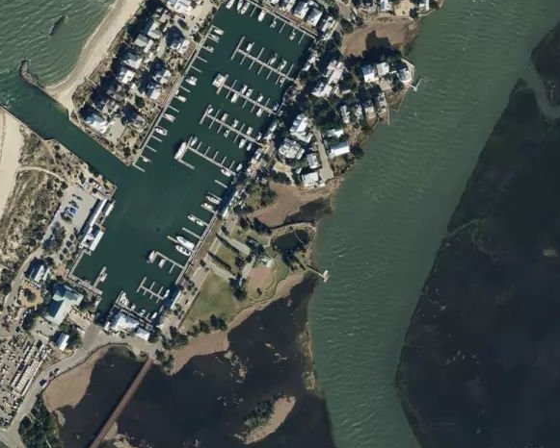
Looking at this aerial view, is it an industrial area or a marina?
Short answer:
marina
